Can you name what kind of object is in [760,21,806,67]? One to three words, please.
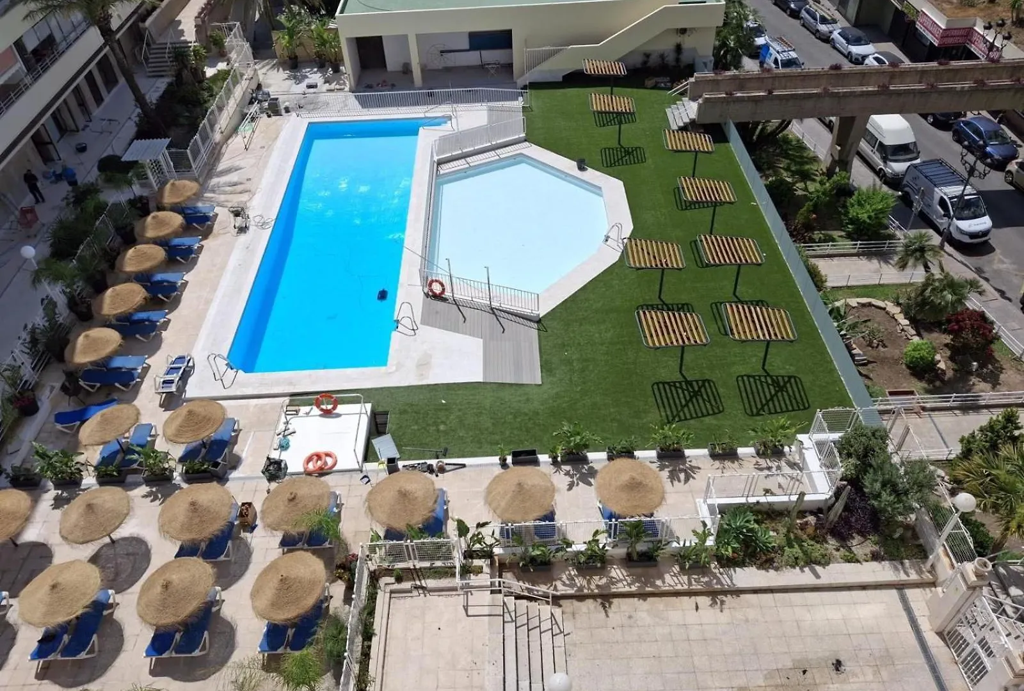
van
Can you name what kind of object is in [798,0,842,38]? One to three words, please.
car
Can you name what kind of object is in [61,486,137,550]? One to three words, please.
umbrella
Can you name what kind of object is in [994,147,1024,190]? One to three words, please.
car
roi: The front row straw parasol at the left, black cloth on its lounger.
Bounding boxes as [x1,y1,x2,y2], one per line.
[12,560,96,637]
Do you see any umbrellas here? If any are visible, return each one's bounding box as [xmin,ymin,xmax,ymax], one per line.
[160,483,236,543]
[260,476,333,541]
[121,556,206,631]
[162,395,231,448]
[488,460,559,525]
[12,560,96,637]
[242,547,323,618]
[65,330,127,378]
[120,247,174,292]
[162,182,209,231]
[61,486,137,550]
[97,288,156,340]
[599,455,669,519]
[365,469,436,531]
[81,402,150,454]
[139,215,189,265]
